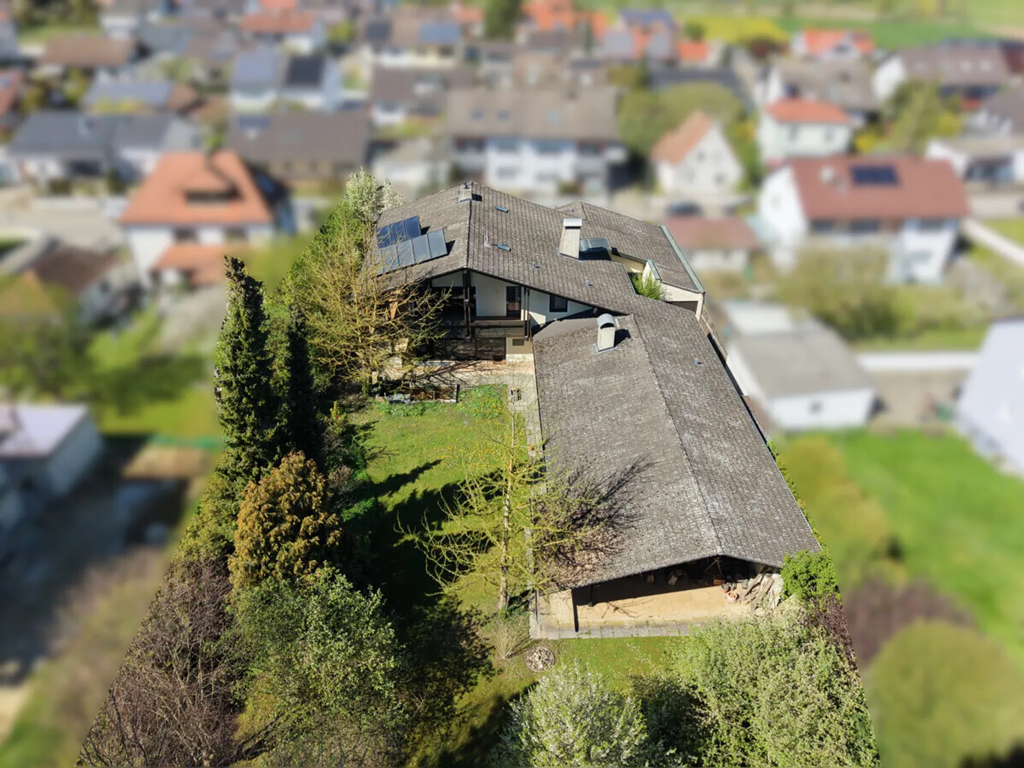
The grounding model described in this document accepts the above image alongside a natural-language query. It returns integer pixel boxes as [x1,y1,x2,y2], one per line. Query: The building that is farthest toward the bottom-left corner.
[0,399,104,511]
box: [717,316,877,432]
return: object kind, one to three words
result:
building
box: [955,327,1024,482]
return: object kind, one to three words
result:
house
